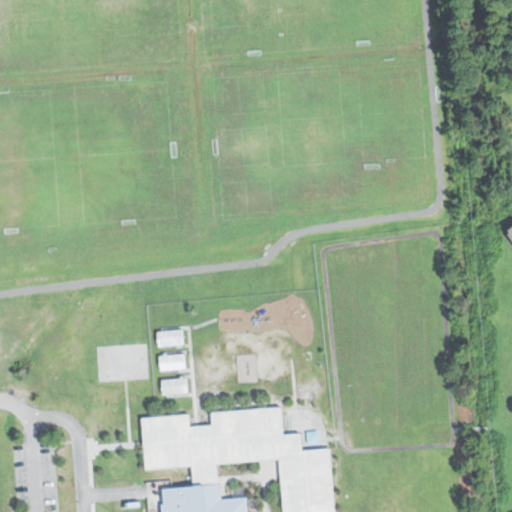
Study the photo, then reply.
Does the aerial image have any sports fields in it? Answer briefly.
Yes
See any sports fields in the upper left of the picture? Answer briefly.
Yes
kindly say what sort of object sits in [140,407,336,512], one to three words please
building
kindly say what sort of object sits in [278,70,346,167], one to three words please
sports field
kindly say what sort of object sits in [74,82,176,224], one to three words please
sports field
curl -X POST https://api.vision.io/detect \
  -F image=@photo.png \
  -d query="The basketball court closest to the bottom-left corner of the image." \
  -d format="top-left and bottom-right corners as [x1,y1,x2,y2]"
[98,344,148,382]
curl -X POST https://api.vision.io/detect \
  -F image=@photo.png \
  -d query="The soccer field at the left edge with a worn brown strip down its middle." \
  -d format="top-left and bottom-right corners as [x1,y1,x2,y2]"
[0,90,59,230]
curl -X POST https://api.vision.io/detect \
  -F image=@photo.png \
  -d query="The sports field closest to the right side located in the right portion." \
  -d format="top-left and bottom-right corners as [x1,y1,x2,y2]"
[359,66,426,160]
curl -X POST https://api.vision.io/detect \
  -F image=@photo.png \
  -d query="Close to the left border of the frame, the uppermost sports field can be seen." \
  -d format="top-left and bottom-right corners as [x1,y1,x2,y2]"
[0,0,181,71]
